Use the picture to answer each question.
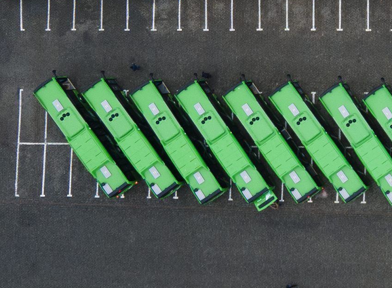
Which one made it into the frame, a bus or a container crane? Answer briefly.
bus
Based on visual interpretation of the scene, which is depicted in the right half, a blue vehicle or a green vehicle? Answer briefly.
green vehicle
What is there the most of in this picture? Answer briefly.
paved ground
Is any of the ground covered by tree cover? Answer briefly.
No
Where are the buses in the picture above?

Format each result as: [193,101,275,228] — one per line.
[128,71,236,206]
[80,69,189,200]
[32,68,146,200]
[316,73,392,204]
[220,71,330,206]
[266,71,376,204]
[172,71,282,213]
[359,75,392,140]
